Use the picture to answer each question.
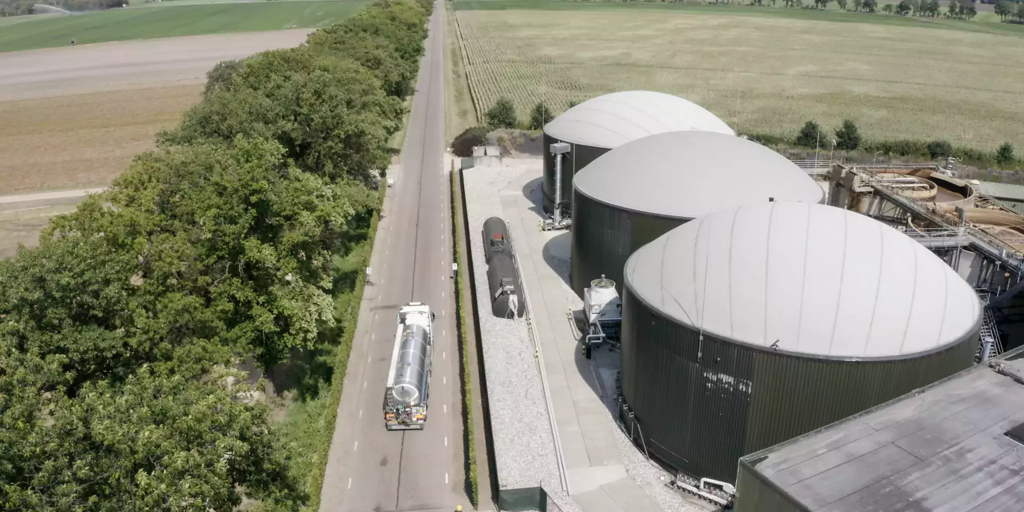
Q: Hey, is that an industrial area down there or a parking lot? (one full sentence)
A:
The picture captures an industrial area.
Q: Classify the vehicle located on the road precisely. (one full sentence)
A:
The vehicle located on the road can be classified as a truck.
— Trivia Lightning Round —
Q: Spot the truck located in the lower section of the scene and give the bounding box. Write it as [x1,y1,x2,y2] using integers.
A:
[385,304,436,432]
